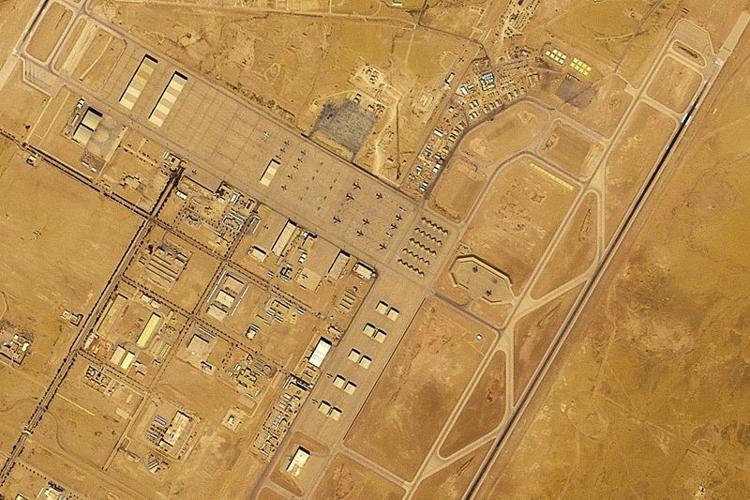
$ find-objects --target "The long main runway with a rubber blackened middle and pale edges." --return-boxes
[462,54,726,500]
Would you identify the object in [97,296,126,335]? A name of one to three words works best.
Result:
building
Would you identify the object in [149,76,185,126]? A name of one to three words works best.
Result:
hangar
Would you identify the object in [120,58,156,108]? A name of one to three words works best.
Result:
hangar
